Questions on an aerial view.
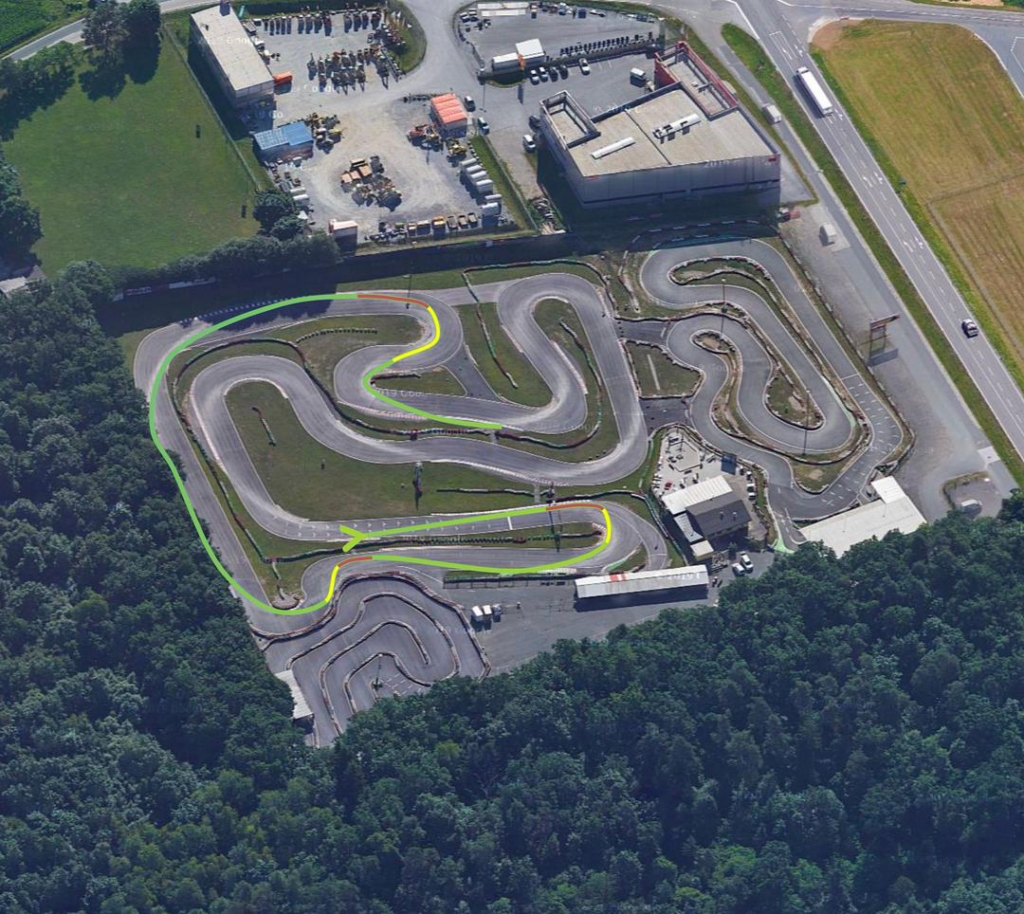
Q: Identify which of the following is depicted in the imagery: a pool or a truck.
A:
truck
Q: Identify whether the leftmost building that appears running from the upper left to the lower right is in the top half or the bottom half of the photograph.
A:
top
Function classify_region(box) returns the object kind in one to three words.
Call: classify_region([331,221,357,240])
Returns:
vehicle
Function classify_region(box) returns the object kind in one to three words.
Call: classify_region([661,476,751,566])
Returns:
building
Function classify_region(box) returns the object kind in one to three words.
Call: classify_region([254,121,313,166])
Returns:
shed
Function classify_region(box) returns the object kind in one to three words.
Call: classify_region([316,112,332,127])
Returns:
work vehicle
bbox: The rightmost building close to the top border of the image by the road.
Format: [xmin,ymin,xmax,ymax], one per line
[540,41,779,215]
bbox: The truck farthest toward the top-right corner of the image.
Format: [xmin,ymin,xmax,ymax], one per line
[794,64,836,114]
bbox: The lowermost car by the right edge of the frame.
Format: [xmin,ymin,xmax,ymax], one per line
[962,321,978,336]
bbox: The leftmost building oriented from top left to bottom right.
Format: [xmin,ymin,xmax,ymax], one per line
[191,2,274,115]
